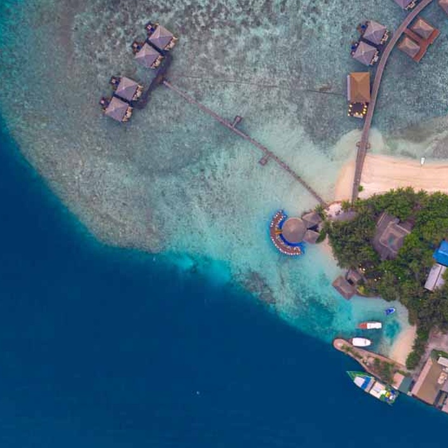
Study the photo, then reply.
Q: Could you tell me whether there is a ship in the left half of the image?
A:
No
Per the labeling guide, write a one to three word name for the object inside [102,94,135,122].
house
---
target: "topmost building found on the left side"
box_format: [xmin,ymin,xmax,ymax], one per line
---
[147,20,179,53]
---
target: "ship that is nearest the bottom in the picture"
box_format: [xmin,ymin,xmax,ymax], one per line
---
[349,370,398,409]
